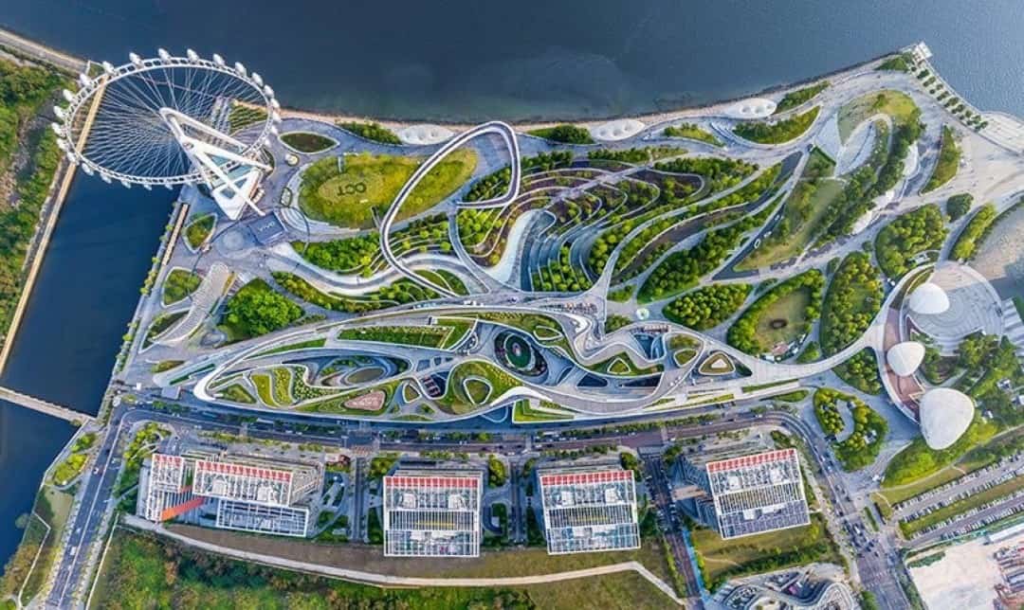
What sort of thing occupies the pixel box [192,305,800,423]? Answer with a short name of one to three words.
building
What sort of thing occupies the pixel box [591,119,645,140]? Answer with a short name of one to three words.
building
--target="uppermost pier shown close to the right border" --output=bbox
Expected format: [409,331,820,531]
[900,40,990,134]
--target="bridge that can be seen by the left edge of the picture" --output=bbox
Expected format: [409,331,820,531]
[0,386,95,427]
